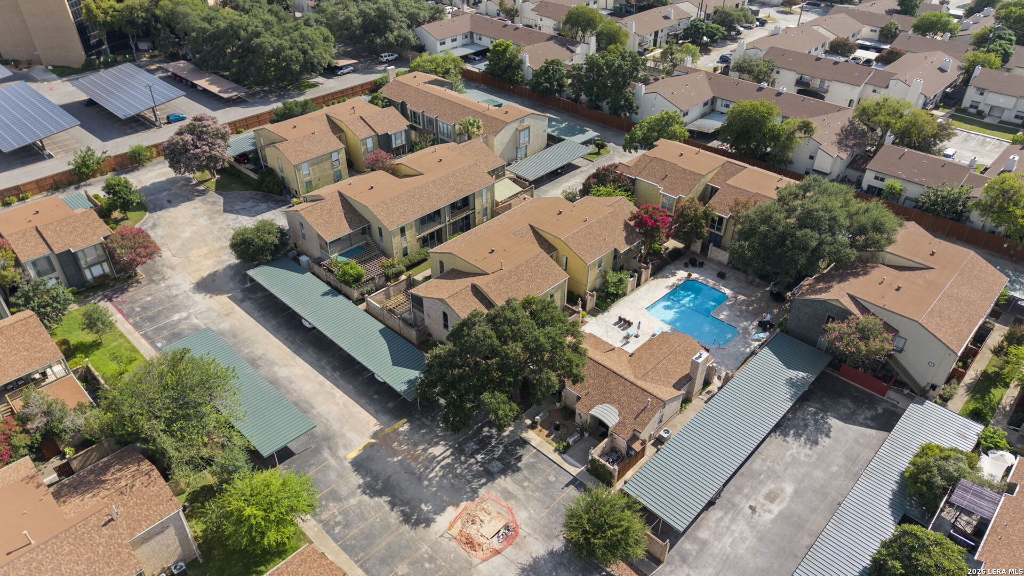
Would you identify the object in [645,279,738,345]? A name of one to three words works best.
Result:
swimming pool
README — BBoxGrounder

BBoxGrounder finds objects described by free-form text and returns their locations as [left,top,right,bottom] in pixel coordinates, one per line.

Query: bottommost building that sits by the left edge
[0,443,201,576]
